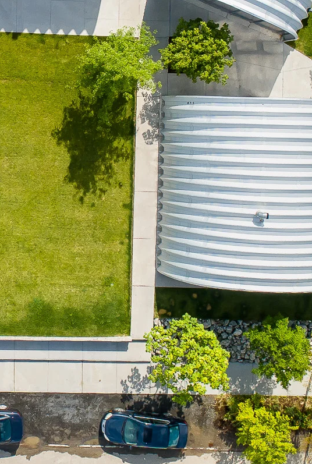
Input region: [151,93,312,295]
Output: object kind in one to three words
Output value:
shed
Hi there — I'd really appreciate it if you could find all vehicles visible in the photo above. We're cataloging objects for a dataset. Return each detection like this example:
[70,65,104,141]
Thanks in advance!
[0,406,22,445]
[98,405,189,451]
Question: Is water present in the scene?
No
